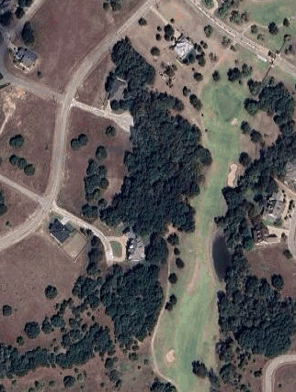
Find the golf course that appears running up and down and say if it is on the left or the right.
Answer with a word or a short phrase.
right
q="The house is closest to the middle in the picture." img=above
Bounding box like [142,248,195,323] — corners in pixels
[127,231,144,260]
